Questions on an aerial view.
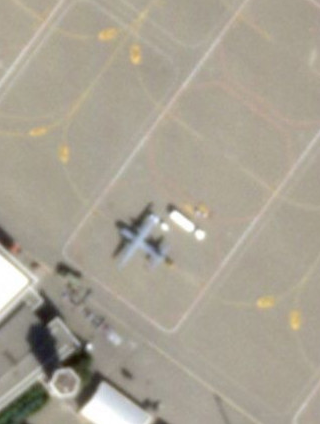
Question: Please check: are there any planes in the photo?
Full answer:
Yes, there's a plane here.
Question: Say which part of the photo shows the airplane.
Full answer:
You can find the airplane in the center area of the picture.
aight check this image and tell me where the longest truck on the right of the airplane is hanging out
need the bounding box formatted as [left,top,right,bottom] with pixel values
[171,213,195,234]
